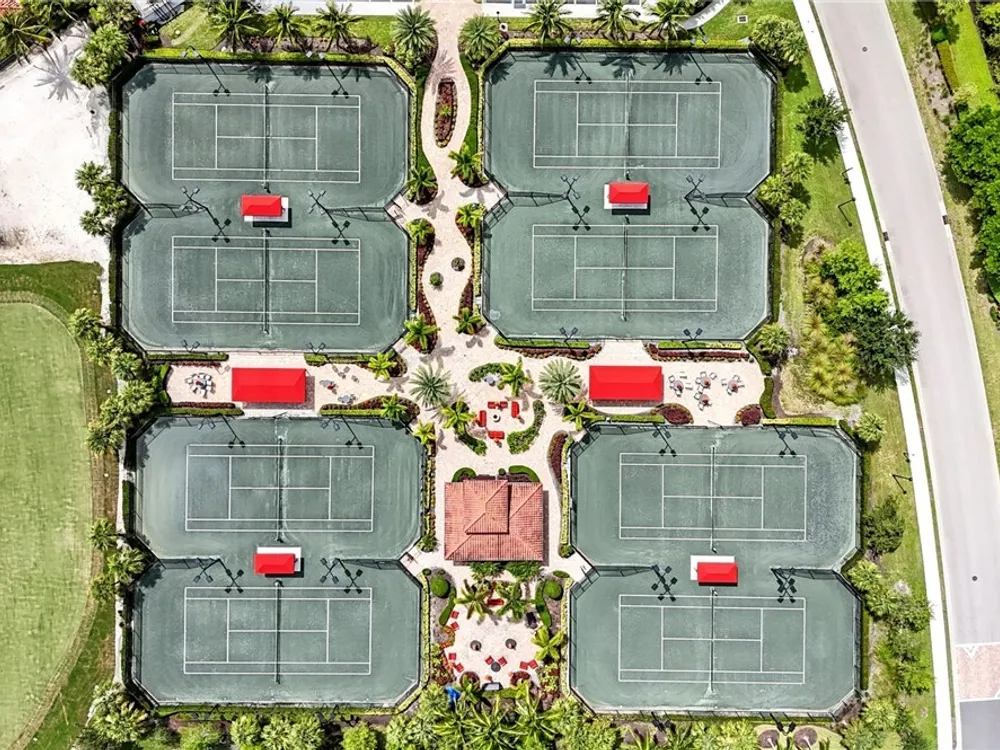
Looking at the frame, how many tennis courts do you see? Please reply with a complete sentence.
The count of tennis courts comes to 8.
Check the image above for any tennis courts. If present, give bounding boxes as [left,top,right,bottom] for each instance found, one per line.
[484,192,769,341]
[571,564,854,713]
[123,207,407,352]
[123,64,407,208]
[572,425,855,569]
[485,53,770,197]
[135,560,421,706]
[137,419,421,562]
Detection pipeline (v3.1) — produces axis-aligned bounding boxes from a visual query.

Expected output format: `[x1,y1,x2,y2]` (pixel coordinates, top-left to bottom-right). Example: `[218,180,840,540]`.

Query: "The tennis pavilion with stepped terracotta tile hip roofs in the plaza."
[444,479,544,562]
